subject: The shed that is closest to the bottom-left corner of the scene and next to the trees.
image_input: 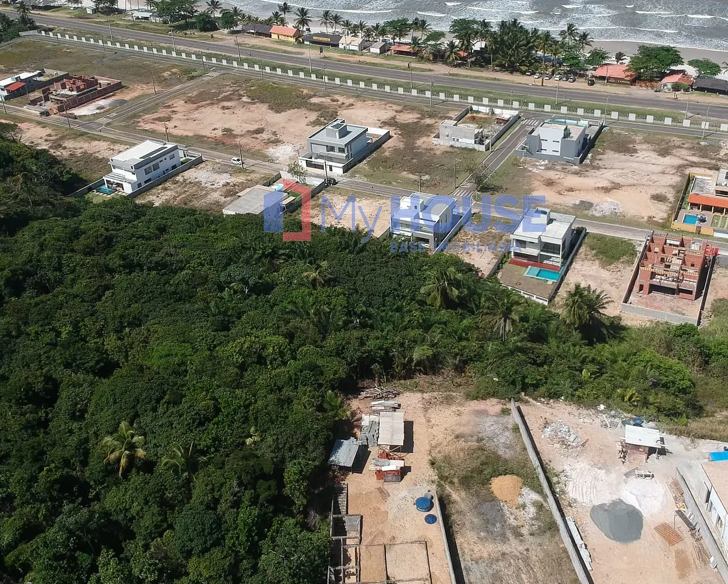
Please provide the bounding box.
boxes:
[330,439,359,477]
